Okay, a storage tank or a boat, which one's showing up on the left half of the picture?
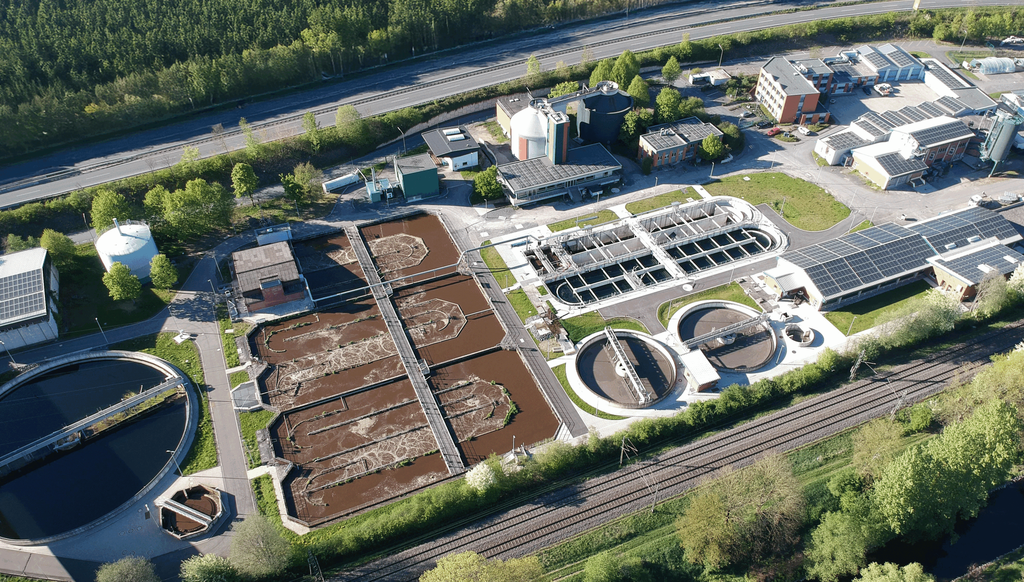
storage tank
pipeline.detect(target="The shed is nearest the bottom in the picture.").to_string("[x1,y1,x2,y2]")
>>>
[678,349,721,394]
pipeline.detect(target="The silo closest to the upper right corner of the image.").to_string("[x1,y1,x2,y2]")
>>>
[978,111,1024,180]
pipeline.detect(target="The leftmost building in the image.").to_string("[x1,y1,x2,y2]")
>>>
[0,250,56,350]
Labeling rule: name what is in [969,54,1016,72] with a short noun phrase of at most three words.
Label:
greenhouse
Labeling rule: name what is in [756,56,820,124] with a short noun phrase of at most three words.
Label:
building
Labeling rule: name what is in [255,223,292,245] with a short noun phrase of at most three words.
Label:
building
